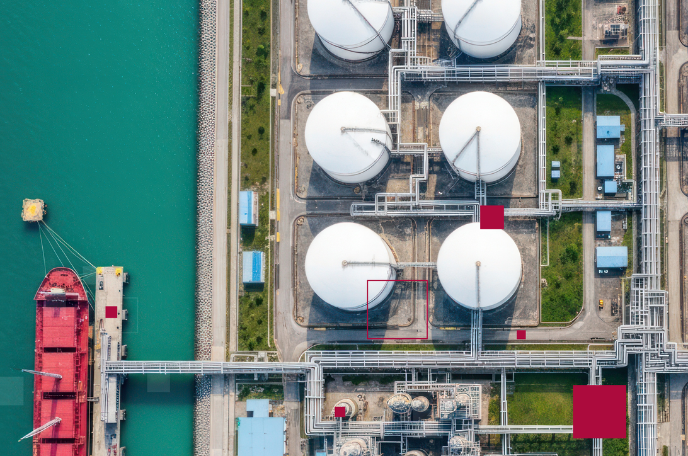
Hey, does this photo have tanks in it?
Yes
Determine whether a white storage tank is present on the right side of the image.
Yes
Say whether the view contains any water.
Yes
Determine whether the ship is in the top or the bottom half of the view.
bottom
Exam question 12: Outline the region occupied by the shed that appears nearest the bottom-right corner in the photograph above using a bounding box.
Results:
[597,246,628,267]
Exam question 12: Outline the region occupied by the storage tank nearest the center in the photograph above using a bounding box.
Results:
[304,221,398,313]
